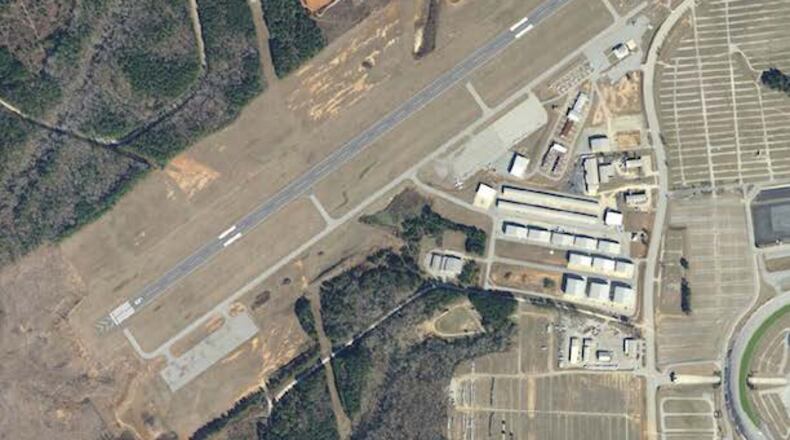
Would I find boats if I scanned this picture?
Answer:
No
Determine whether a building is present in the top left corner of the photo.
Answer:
No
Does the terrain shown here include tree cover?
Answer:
Yes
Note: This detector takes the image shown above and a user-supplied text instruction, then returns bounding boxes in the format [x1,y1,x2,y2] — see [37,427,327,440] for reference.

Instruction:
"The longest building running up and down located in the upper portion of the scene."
[586,157,599,189]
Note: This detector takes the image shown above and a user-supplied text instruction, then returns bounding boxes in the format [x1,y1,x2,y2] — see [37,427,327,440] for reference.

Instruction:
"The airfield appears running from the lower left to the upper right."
[98,0,656,393]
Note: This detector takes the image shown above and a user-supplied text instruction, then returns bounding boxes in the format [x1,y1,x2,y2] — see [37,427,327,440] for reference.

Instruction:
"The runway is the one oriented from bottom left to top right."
[98,0,575,333]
